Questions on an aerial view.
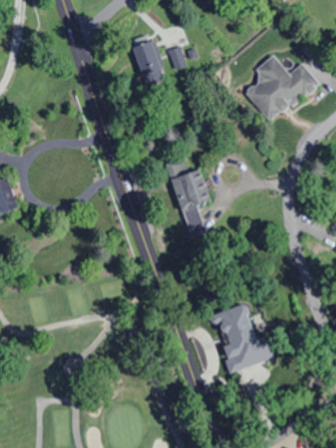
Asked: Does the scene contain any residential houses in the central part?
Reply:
Yes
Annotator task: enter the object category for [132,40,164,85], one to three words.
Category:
house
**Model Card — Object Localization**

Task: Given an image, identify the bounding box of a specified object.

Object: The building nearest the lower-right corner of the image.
[210,302,274,375]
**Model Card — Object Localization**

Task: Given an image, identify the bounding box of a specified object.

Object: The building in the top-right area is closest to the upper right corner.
[245,60,319,116]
